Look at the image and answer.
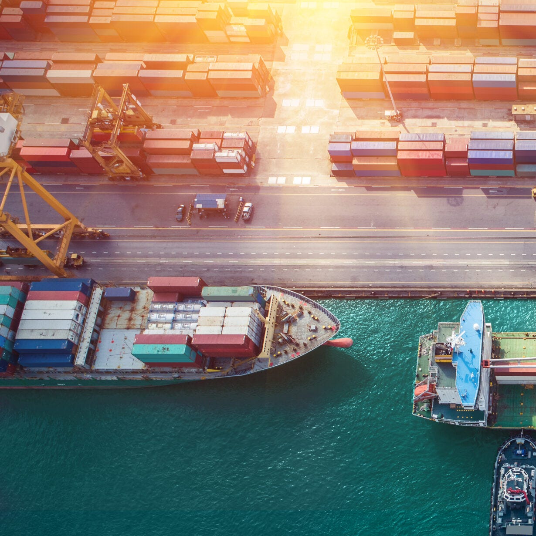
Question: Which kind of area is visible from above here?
port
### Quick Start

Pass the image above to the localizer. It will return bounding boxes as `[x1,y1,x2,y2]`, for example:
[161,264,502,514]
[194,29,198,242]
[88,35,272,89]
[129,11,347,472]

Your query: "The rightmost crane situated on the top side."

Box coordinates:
[82,77,165,183]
